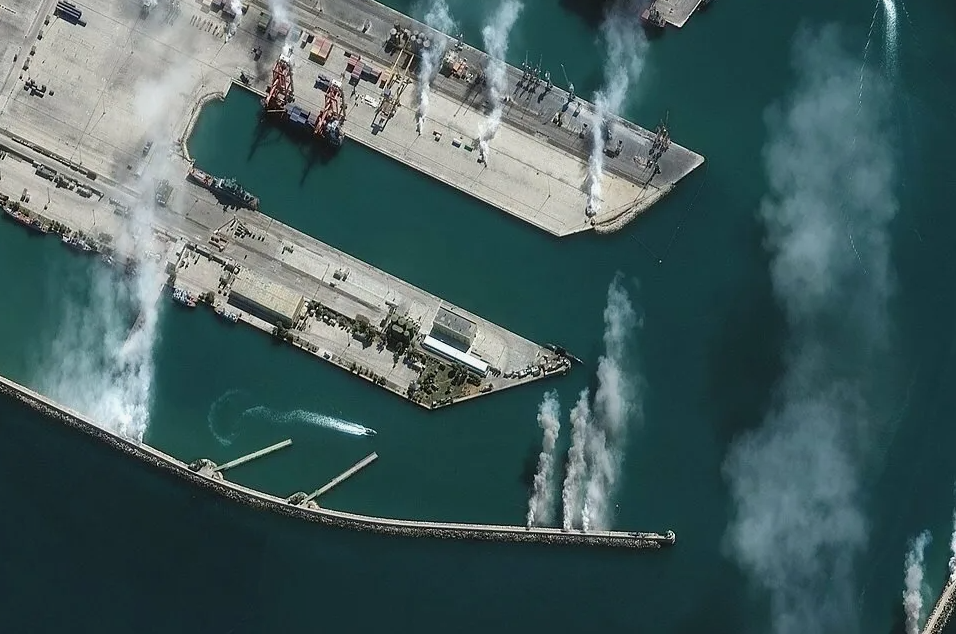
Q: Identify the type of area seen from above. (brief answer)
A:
port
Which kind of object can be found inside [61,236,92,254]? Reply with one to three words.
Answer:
ship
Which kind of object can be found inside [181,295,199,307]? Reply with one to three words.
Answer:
boat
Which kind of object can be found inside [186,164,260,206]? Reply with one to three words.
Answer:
ship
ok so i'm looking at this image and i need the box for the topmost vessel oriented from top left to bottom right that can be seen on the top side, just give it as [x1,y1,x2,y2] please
[642,7,666,29]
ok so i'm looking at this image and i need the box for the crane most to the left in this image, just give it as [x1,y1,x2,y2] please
[251,54,293,115]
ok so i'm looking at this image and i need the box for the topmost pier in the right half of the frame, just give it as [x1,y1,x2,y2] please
[652,0,702,28]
